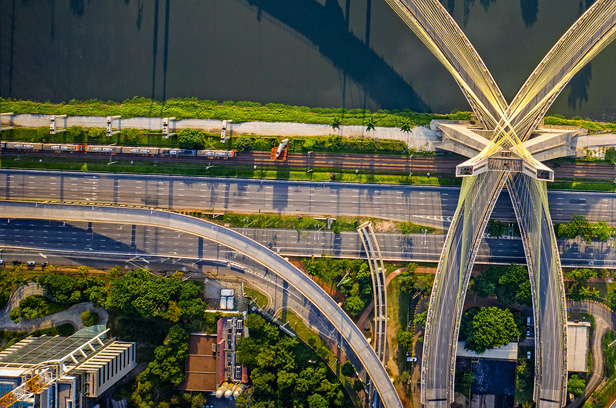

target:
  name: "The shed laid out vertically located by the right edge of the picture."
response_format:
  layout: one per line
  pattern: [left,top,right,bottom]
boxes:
[567,319,591,371]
